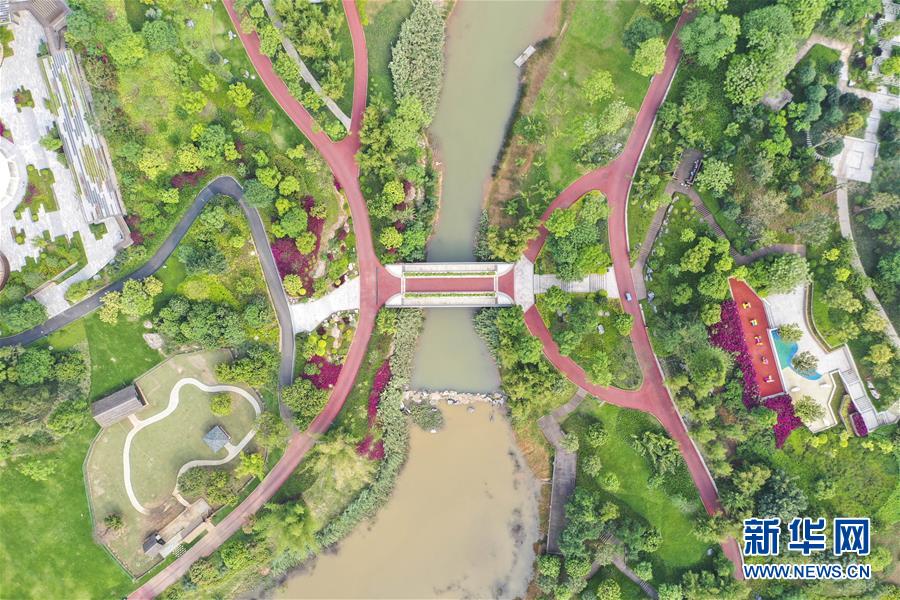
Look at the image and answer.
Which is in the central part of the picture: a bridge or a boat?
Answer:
bridge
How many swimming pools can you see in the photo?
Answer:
1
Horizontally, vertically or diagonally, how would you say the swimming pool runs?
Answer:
diagonally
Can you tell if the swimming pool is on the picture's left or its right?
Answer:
right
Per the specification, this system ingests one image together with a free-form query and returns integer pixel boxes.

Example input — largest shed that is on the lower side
[92,383,151,427]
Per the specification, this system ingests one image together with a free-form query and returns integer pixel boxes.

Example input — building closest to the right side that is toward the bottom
[203,424,233,452]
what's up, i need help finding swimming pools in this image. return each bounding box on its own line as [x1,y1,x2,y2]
[773,329,822,380]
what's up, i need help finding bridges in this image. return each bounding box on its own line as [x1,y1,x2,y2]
[377,264,516,307]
